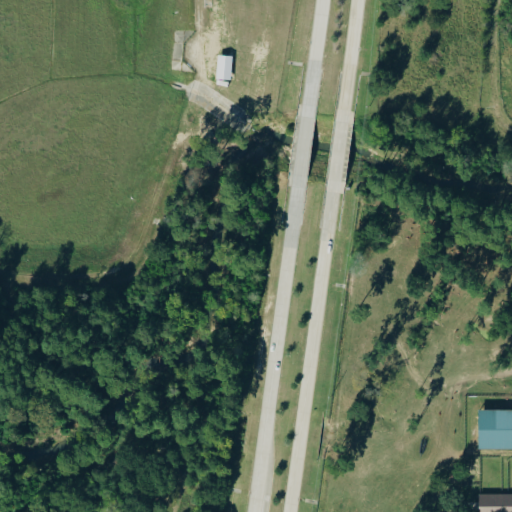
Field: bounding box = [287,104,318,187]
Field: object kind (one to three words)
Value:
bridge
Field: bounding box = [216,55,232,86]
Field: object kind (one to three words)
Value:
shed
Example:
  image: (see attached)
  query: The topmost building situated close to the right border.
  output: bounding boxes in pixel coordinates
[478,410,512,450]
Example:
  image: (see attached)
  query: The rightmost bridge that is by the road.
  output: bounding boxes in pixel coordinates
[325,111,355,193]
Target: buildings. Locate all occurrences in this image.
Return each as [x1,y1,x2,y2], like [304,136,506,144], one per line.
[216,55,232,86]
[478,494,512,512]
[478,410,512,450]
